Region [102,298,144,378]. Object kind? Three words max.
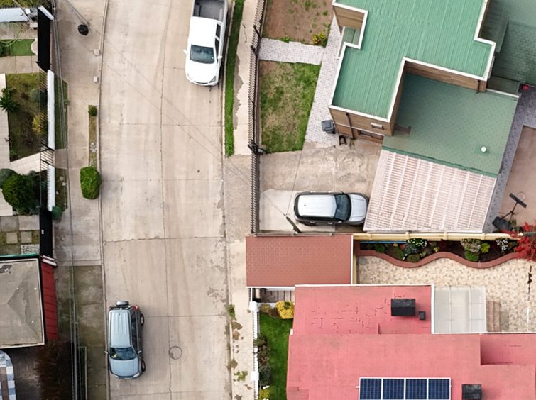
car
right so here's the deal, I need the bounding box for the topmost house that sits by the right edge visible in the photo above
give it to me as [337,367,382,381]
[330,0,536,178]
